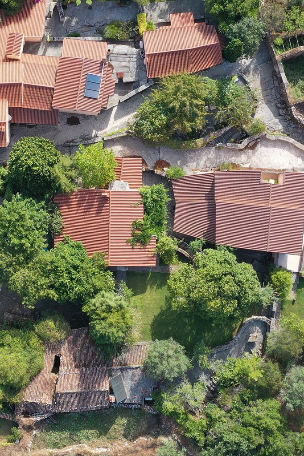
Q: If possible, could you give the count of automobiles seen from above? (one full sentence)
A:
I count no automobiles.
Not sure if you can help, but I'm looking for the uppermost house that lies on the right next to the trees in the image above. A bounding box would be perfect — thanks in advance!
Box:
[139,11,227,80]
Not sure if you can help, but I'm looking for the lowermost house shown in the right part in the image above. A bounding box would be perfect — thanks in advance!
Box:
[168,170,304,273]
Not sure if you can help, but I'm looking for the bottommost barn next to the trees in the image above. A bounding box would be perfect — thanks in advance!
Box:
[10,326,155,418]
